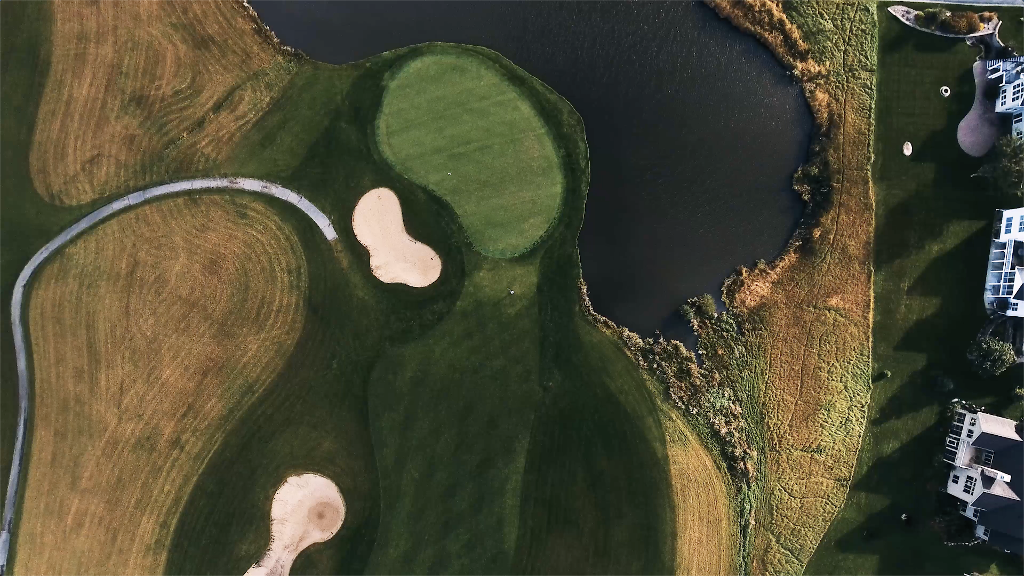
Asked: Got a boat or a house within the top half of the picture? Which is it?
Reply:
house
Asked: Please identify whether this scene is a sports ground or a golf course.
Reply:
golf course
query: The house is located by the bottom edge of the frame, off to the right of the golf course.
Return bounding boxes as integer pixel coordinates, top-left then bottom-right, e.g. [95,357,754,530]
[941,410,1024,557]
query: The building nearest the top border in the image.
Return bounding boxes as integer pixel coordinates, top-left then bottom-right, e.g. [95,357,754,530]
[980,50,1024,149]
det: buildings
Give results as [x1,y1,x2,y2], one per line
[980,50,1024,149]
[941,410,1024,557]
[984,209,1024,321]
